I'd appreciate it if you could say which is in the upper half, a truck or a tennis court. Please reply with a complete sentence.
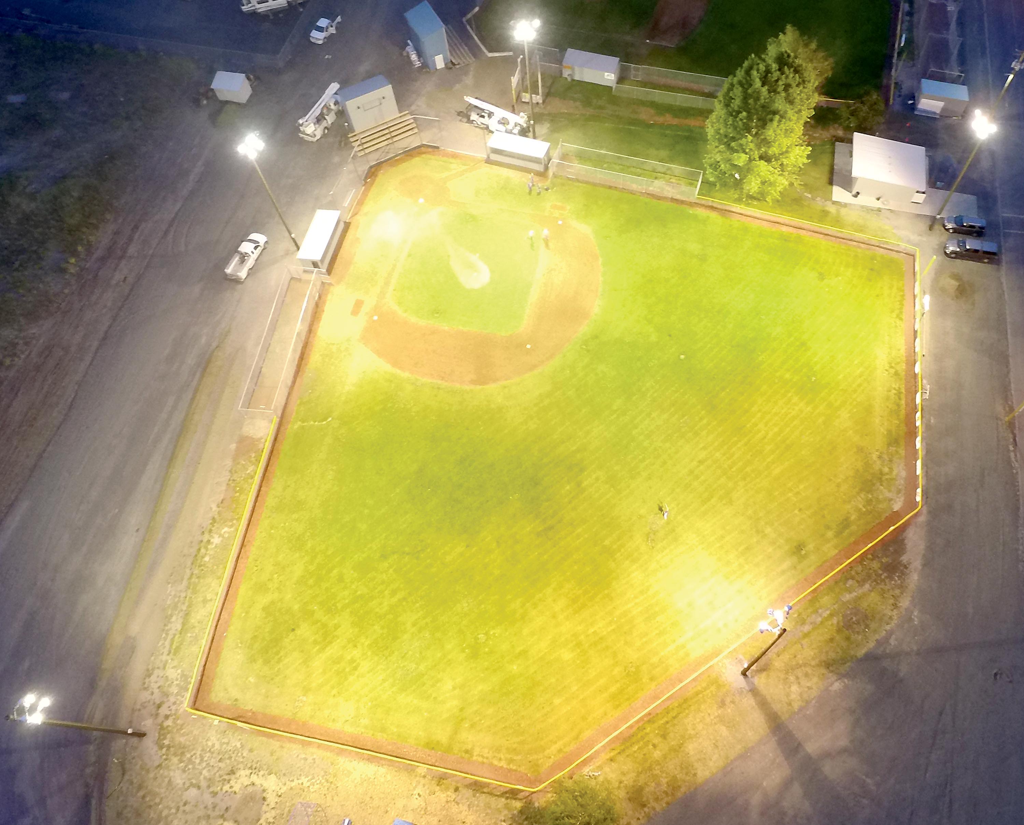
What appears in the upper half is a truck.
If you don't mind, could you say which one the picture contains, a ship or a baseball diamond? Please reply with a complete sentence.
I can see a baseball diamond in this picture.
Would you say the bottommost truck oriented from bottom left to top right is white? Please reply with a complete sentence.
Yes, the bottommost truck oriented from bottom left to top right is indeed white.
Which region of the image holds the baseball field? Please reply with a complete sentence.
The baseball field sits in the center section of the image.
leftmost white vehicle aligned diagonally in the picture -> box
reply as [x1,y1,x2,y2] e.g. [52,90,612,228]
[221,230,271,279]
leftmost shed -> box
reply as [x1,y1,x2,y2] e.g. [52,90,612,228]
[212,69,253,102]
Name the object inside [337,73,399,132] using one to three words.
building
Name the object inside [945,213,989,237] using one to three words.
car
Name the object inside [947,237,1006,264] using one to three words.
truck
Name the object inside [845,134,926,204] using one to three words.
building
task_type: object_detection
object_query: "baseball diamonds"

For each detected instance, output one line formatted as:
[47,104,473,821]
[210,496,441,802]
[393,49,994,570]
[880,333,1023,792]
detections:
[195,145,916,788]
